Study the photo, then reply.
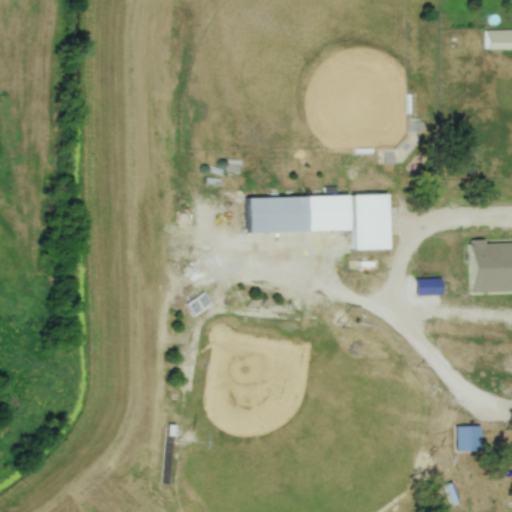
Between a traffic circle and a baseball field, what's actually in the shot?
baseball field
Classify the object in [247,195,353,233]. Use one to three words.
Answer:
barn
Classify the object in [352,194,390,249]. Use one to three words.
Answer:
barn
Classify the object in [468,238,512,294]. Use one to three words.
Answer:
house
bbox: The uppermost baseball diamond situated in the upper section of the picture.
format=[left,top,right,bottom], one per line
[193,0,407,151]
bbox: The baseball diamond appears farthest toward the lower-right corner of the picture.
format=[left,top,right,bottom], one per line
[179,312,428,512]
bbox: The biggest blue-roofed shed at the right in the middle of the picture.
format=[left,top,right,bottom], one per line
[414,278,446,295]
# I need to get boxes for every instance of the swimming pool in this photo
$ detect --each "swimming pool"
[484,13,500,27]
